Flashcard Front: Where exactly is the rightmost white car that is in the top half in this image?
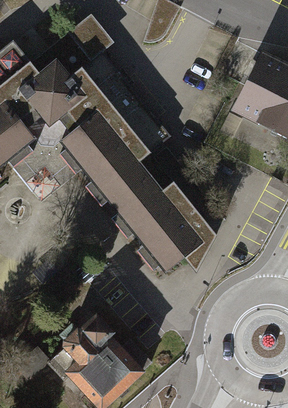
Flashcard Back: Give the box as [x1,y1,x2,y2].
[190,62,212,78]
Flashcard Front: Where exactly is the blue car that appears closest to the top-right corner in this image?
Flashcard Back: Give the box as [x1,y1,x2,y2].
[183,74,206,90]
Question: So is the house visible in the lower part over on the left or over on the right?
left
